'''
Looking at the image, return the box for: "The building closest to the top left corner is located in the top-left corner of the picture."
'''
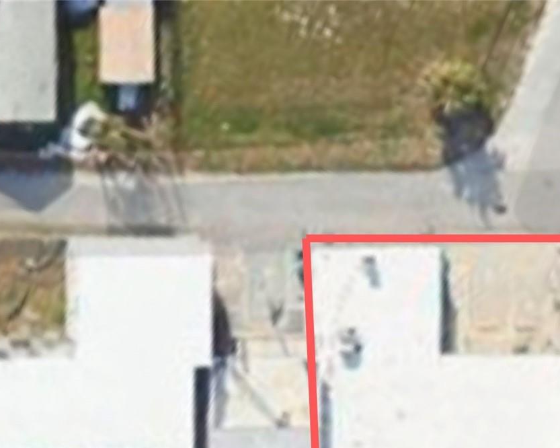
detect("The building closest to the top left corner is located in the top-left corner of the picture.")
[0,0,57,122]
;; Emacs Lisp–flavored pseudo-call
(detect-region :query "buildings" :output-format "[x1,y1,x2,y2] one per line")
[0,239,213,448]
[0,0,57,122]
[309,245,560,448]
[99,0,154,109]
